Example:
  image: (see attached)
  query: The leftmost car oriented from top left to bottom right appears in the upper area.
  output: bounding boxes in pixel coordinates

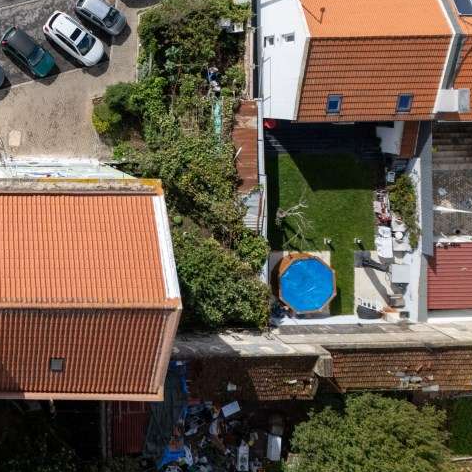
[0,24,59,80]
